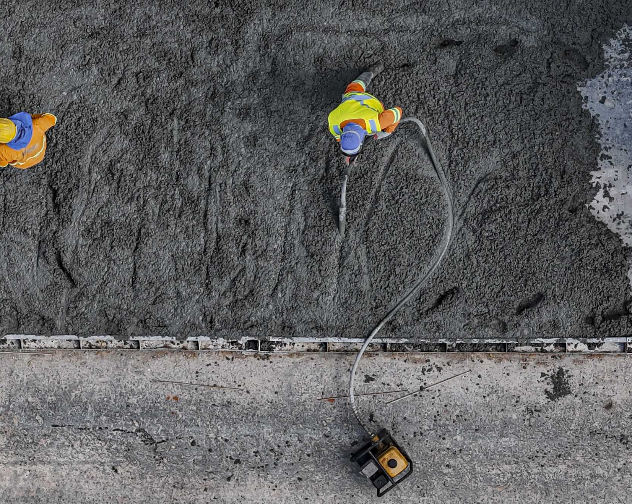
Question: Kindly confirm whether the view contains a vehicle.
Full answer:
No, the frame has no vehicle in it.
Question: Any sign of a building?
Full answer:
No, there's no building here.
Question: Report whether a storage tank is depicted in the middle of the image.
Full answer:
No, looking in the middle of the image, there is no storage tank.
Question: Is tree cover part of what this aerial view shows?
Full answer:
No, there is no tree cover in the image.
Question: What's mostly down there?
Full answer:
The largest share of the image is taken up by paved ground.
